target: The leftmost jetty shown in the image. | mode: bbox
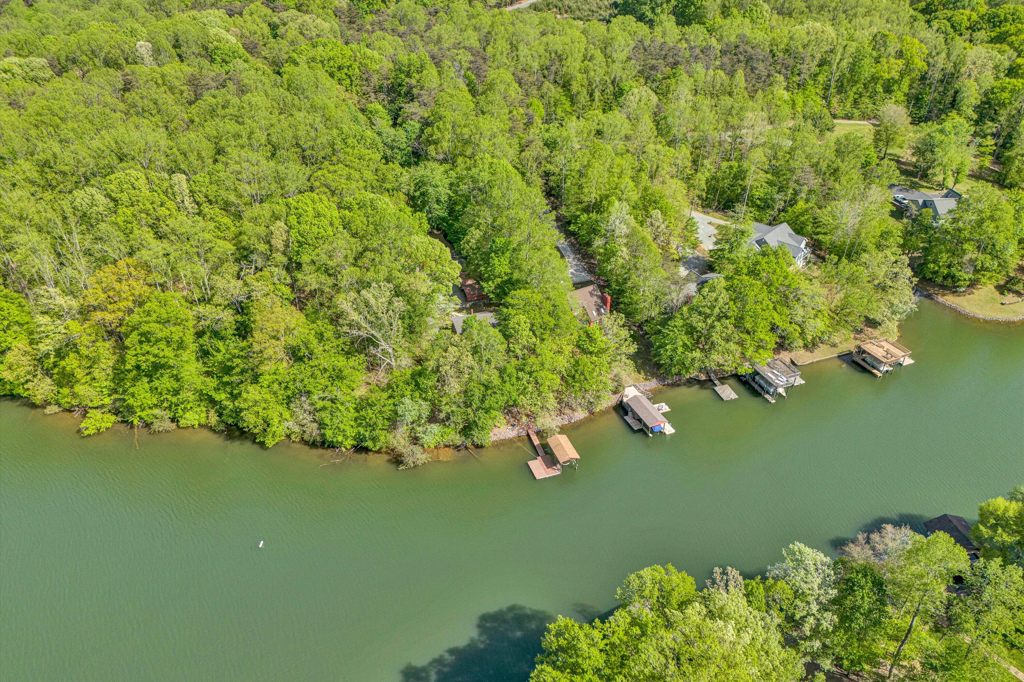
[525,419,580,481]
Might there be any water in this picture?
Yes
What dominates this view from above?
trees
